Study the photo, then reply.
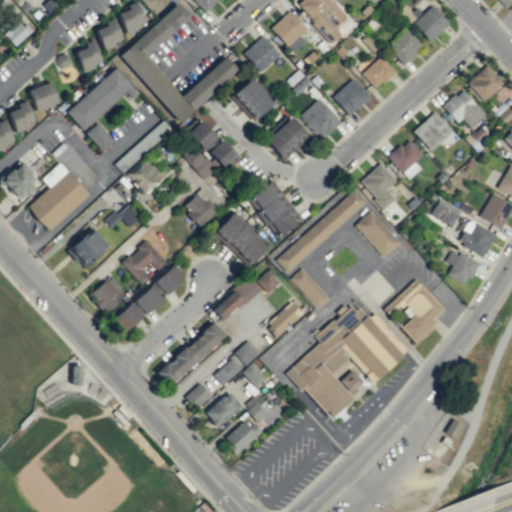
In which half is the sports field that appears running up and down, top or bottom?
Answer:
bottom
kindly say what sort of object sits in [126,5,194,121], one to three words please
building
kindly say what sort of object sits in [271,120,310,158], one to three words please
house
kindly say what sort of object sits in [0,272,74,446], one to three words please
sports field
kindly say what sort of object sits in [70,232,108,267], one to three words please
house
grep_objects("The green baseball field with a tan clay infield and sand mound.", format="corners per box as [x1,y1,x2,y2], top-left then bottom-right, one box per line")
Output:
[0,392,213,512]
